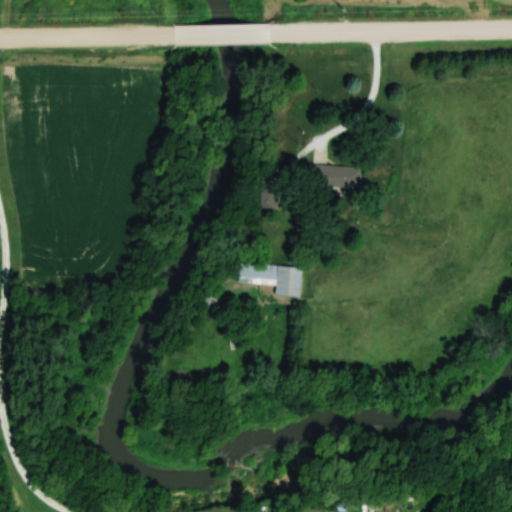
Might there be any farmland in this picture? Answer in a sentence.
Yes, there is farmland in the image.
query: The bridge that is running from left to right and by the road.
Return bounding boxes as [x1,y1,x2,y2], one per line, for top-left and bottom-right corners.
[170,22,276,49]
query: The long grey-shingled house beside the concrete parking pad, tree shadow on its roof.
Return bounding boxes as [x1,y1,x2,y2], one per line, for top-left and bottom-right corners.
[314,162,362,190]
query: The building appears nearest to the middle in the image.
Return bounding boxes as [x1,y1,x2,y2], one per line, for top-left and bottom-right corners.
[240,262,303,298]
